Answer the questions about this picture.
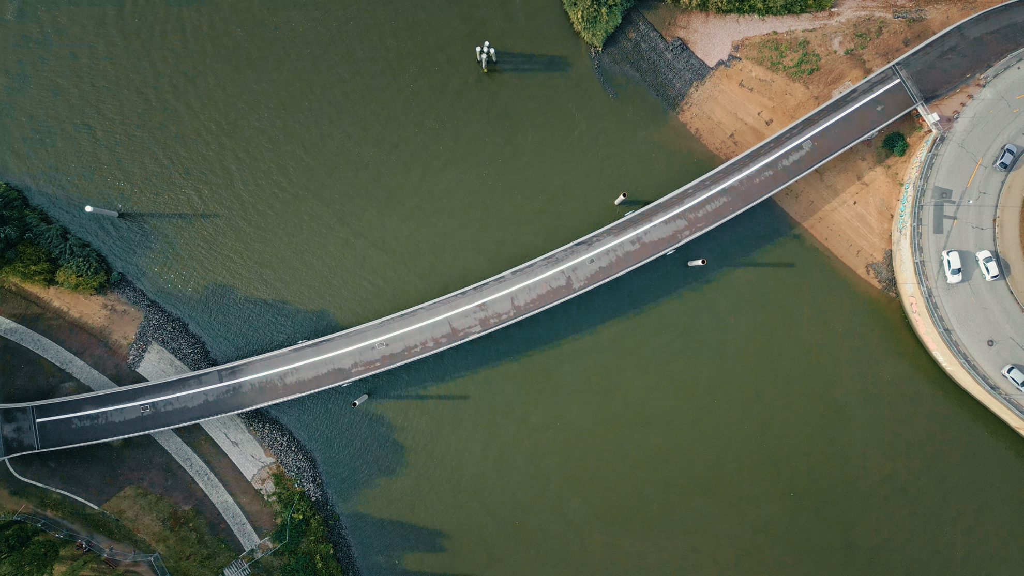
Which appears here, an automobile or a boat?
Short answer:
automobile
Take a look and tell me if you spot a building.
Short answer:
No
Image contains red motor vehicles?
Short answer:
No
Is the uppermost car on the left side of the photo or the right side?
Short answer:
right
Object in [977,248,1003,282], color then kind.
white car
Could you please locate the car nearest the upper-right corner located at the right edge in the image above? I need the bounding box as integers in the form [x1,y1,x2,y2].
[994,139,1021,174]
